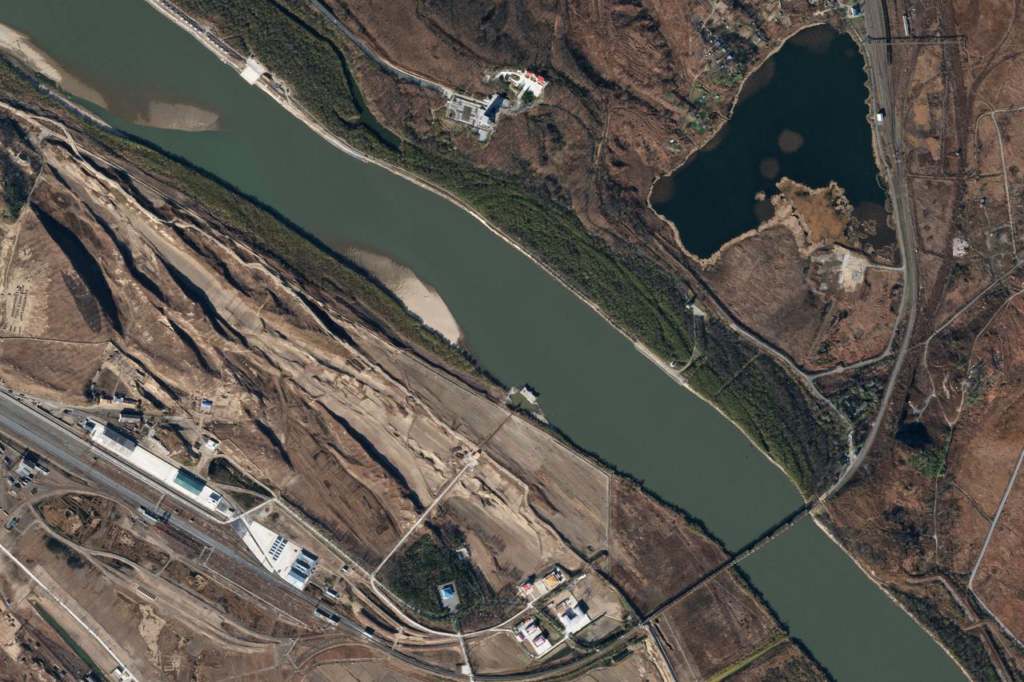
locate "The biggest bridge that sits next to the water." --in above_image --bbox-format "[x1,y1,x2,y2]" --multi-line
[642,503,820,624]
